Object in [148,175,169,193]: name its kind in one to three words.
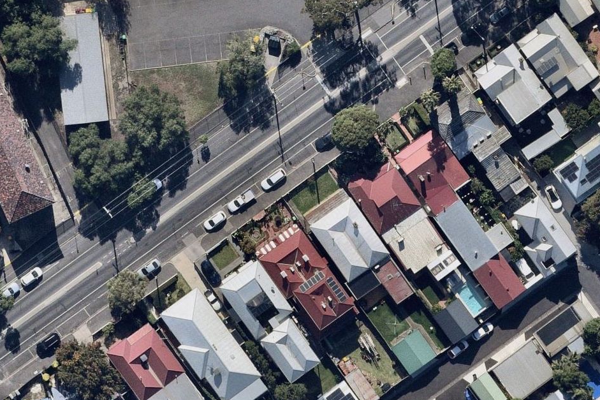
car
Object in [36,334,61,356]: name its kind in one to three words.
car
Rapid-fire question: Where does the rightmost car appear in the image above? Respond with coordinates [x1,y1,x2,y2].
[545,184,562,211]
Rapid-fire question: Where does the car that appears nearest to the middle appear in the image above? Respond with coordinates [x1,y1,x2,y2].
[261,168,286,189]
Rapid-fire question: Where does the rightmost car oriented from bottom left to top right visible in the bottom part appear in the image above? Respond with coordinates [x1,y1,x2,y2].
[470,321,495,343]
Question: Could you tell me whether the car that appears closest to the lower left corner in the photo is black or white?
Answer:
black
